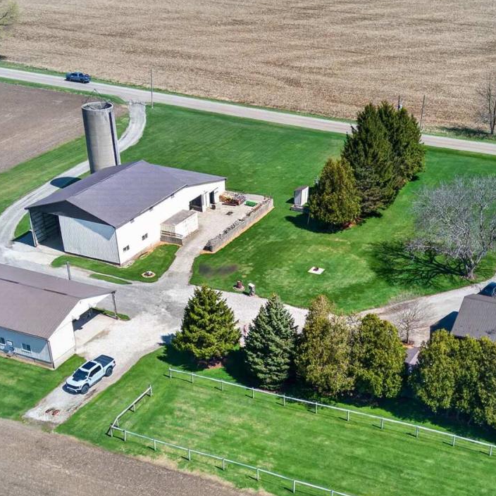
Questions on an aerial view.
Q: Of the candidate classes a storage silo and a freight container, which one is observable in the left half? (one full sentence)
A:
It is a storage silo that can be seen in the left half.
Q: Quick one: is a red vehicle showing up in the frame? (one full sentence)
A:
No, this view has no red vehicle in it.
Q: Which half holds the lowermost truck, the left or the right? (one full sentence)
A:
The lowermost truck sits on the left side.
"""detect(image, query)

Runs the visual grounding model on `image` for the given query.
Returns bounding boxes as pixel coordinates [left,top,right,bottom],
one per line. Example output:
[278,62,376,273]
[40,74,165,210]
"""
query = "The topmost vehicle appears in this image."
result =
[63,69,90,81]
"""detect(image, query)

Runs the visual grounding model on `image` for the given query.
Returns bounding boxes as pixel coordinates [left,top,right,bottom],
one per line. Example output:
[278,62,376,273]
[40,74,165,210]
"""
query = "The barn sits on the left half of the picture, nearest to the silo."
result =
[25,159,228,265]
